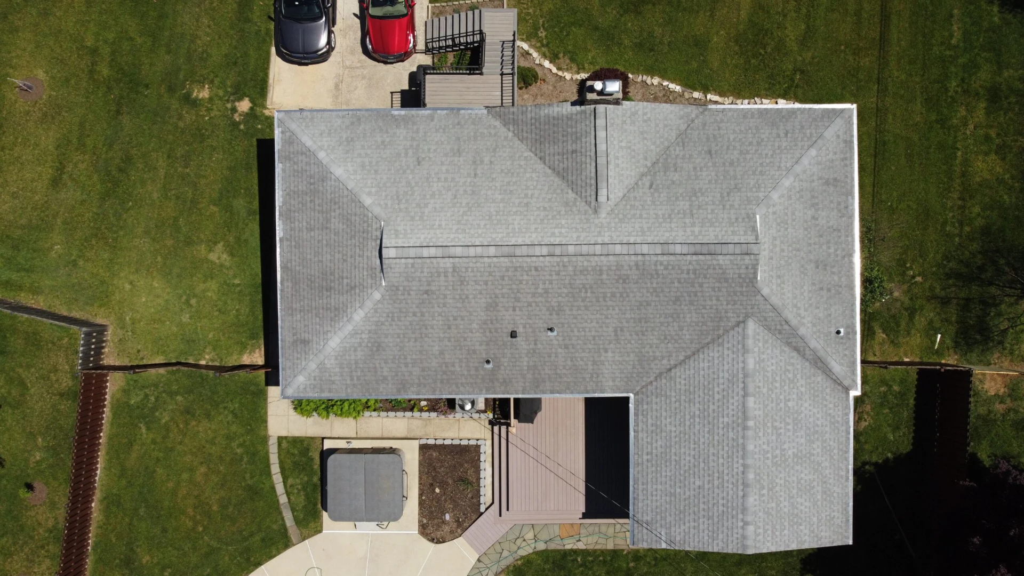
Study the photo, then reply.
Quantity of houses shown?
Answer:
1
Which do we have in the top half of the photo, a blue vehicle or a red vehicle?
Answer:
red vehicle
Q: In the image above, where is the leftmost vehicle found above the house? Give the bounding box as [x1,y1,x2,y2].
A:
[264,0,339,65]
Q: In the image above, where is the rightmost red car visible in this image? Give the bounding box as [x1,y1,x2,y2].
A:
[357,0,419,63]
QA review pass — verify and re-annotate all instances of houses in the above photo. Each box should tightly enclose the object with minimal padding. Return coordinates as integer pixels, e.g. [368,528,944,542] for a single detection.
[276,81,860,552]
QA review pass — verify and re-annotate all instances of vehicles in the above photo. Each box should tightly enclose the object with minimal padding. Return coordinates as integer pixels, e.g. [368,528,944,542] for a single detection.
[357,0,419,63]
[264,0,339,65]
